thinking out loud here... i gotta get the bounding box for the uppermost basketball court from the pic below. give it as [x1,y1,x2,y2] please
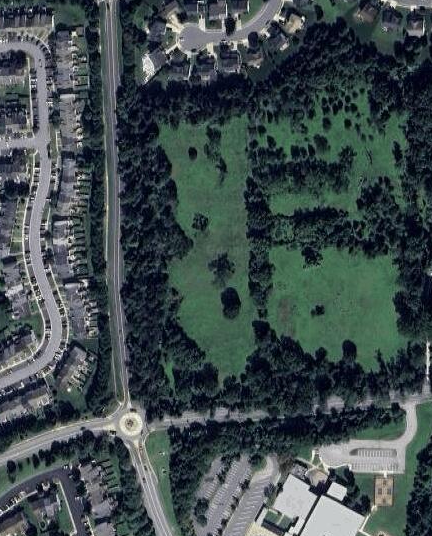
[374,476,394,507]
